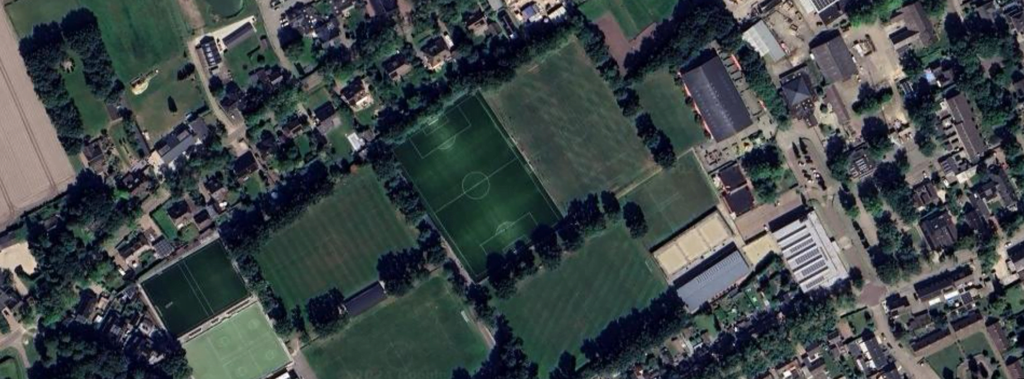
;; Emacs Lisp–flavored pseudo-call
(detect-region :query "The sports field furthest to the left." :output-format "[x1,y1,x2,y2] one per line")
[143,238,249,337]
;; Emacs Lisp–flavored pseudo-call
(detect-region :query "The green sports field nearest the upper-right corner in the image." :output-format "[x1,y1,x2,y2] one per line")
[573,0,679,41]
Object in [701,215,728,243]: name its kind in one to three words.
sports court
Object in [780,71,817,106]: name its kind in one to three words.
building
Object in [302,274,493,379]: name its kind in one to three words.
soccer field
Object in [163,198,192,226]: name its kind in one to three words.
house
